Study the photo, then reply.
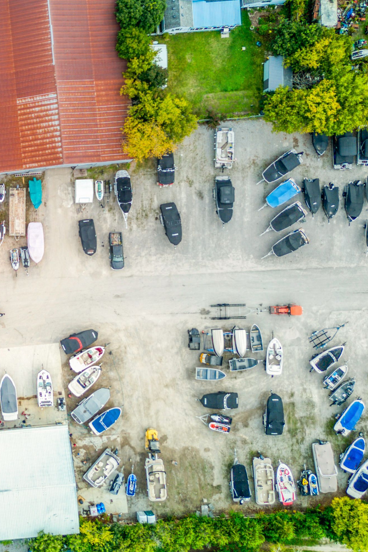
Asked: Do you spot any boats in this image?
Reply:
Yes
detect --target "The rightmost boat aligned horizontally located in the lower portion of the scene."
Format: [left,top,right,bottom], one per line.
[225,357,259,371]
